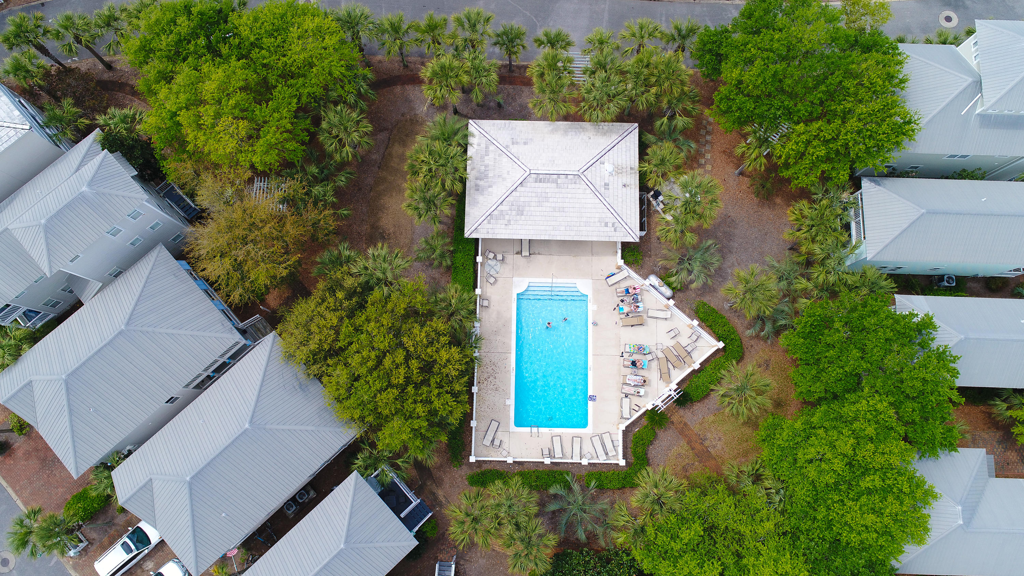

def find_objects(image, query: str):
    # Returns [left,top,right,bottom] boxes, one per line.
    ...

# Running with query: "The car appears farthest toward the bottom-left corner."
[94,520,164,576]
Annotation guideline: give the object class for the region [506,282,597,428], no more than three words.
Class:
swimming pool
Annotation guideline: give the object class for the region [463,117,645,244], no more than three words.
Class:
building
